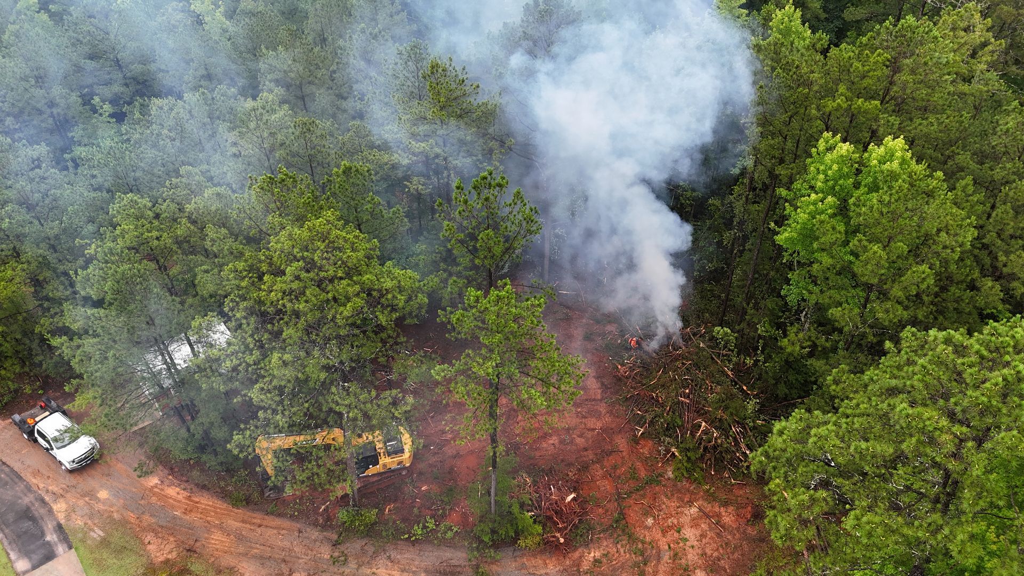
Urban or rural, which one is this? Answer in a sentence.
The area is rural.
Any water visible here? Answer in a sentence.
No, the scene doesn't show any water.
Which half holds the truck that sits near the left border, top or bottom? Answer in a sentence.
The bottom half of the photo is where the truck that sits near the left border is.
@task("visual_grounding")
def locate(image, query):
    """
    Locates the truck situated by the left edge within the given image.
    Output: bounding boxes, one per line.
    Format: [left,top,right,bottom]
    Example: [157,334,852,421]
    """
[1,392,101,471]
